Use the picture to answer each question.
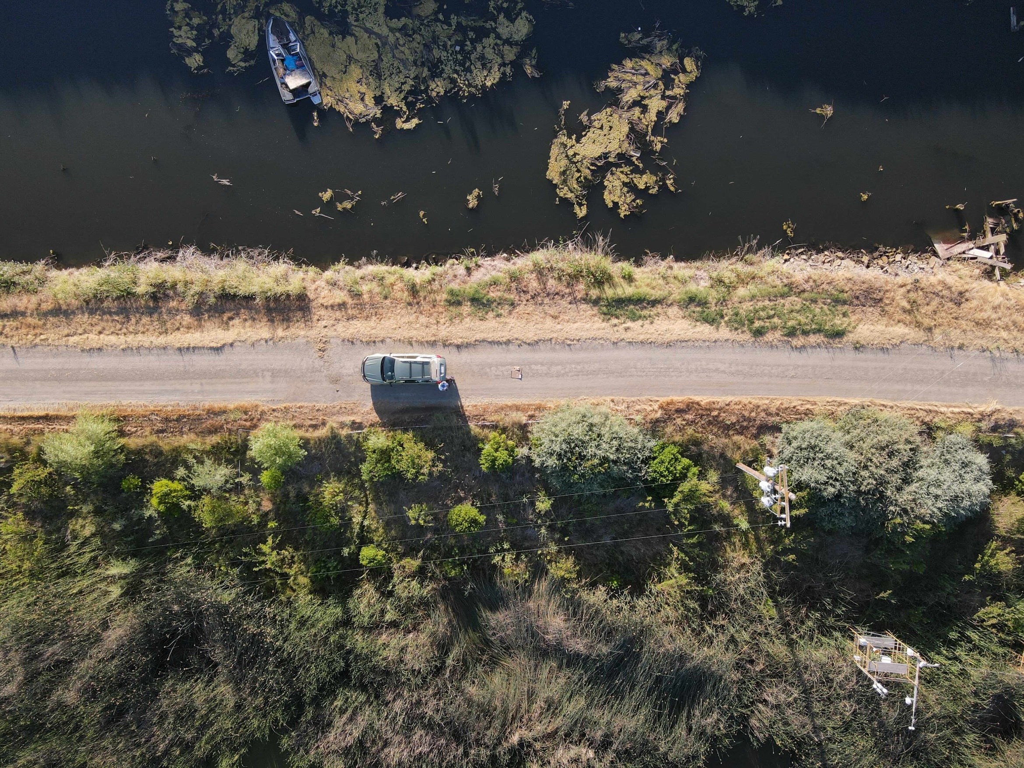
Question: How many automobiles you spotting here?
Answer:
one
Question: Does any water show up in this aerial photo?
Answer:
Yes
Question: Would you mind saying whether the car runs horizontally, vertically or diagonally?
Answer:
horizontally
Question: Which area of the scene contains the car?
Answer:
center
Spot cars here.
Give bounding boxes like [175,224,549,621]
[360,350,447,388]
